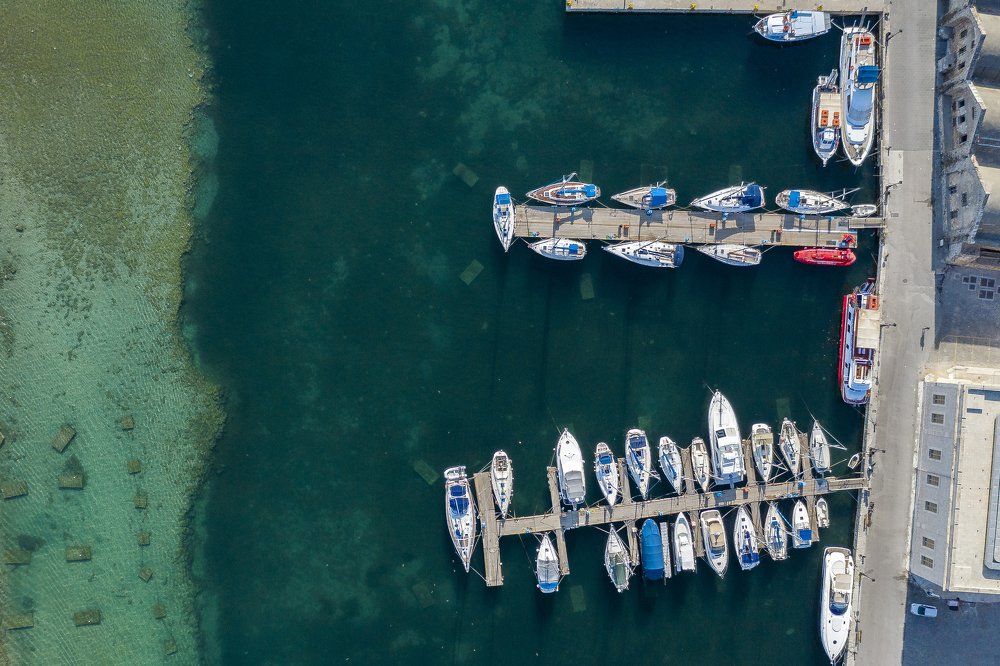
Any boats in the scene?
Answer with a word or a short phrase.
Yes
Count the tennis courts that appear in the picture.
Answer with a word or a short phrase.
zero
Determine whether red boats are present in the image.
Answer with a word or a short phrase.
Yes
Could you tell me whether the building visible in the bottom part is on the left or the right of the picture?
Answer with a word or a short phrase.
right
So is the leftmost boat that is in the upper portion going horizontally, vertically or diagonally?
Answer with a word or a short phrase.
vertically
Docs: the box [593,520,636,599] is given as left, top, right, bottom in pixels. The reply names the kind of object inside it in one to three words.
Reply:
boat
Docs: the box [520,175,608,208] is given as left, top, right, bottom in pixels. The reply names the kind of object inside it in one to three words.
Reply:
boat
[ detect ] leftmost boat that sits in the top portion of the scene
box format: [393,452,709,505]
[492,183,522,252]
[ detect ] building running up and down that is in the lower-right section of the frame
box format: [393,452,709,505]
[911,382,1000,597]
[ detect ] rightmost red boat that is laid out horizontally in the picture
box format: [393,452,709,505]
[792,247,857,266]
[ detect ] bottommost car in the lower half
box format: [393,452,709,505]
[911,603,941,619]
